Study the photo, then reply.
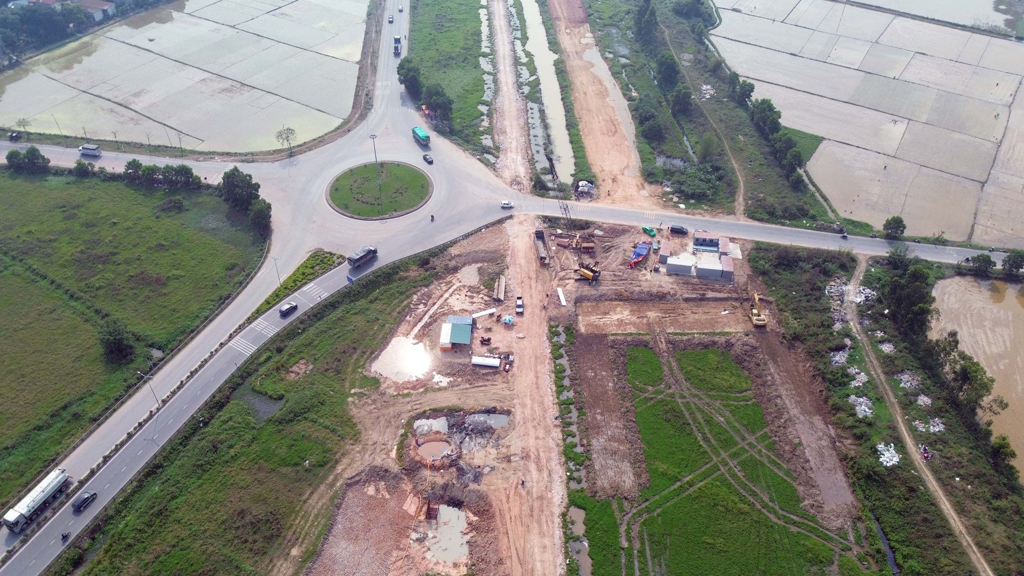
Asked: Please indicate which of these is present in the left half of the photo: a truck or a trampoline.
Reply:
truck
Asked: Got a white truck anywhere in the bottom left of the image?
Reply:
Yes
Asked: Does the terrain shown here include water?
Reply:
Yes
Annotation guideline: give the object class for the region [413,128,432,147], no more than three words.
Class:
vehicle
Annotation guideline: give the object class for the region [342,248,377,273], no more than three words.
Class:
truck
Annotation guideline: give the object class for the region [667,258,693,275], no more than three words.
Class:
building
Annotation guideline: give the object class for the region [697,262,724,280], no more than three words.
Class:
building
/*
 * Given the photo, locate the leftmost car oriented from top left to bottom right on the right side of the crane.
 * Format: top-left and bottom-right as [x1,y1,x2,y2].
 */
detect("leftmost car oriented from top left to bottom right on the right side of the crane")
[641,227,656,239]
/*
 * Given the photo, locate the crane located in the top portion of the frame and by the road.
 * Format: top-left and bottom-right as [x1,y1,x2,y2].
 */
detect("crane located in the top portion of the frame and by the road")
[543,153,599,279]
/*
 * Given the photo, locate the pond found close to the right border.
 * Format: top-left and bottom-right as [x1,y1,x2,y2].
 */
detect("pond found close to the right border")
[931,277,1024,481]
